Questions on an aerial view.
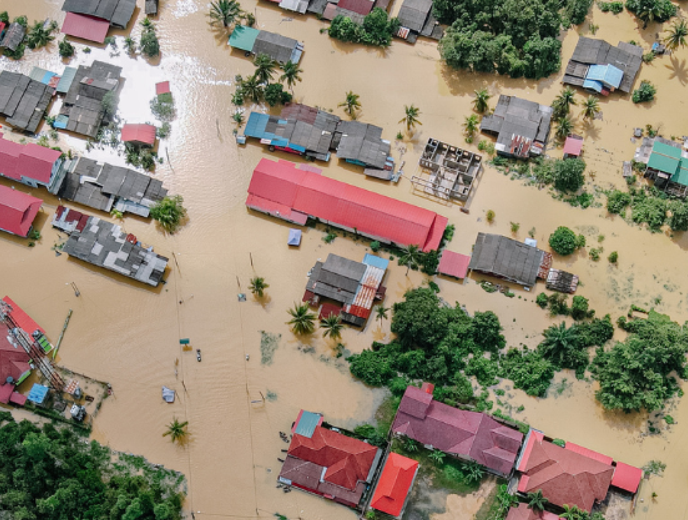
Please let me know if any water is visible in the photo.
Yes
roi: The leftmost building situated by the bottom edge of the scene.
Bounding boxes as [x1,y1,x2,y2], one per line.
[279,409,374,508]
